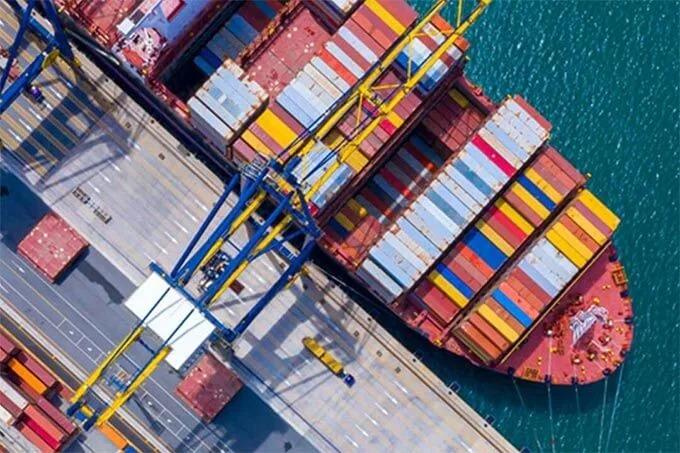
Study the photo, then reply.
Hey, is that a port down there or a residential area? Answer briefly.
port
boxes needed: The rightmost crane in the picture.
[60,0,491,437]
